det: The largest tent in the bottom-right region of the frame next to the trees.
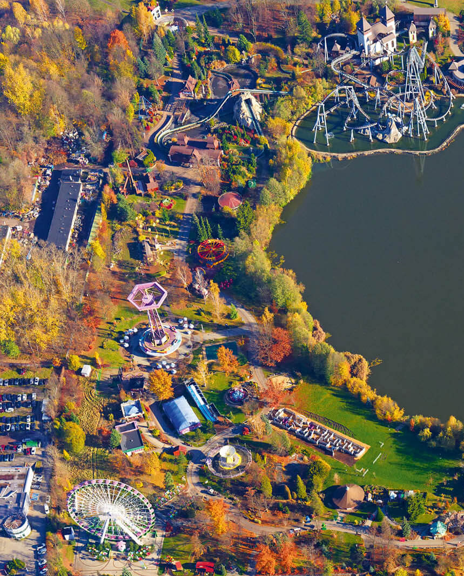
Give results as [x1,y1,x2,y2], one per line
[331,485,365,514]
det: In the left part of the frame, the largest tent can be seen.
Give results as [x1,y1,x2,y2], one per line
[166,395,200,439]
